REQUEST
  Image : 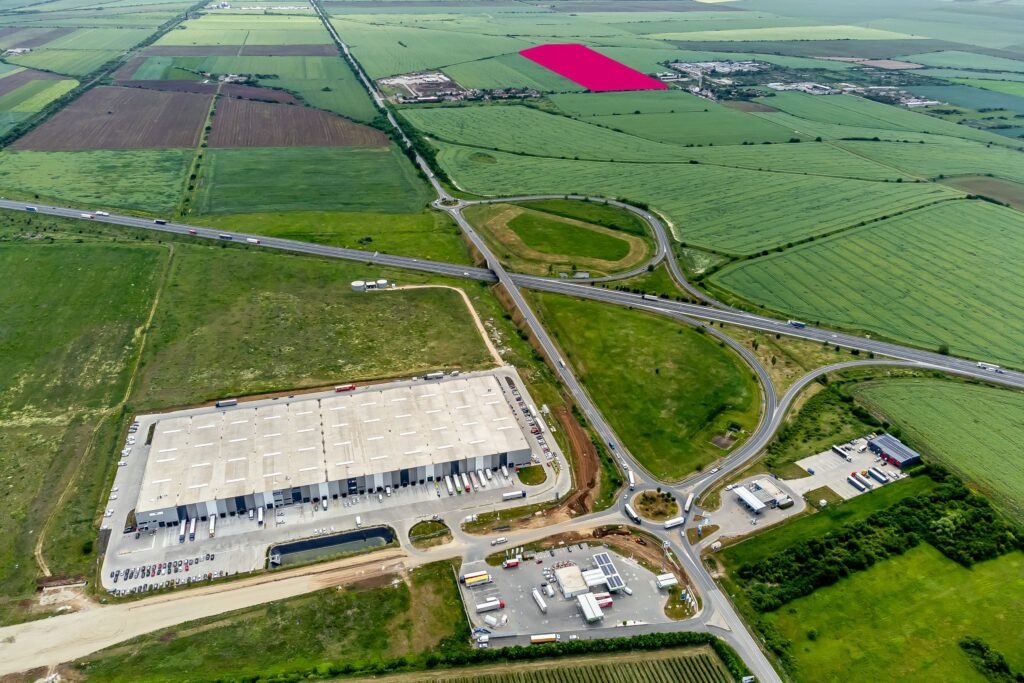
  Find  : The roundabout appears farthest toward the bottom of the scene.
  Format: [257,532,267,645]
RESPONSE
[618,478,696,533]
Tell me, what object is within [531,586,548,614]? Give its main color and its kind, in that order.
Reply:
white vehicle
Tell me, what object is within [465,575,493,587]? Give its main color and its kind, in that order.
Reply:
yellow vehicle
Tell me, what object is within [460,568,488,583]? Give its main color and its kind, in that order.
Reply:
white vehicle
